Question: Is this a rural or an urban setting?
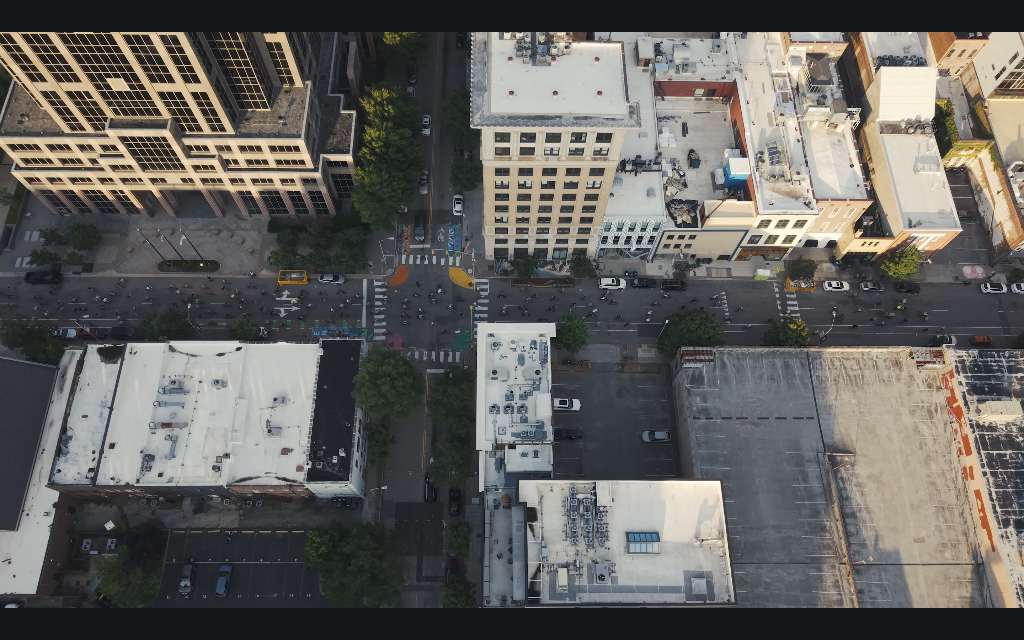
urban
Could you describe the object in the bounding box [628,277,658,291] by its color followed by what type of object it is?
black car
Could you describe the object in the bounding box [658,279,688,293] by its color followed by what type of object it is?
black car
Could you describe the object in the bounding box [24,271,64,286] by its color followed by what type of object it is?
black vehicle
